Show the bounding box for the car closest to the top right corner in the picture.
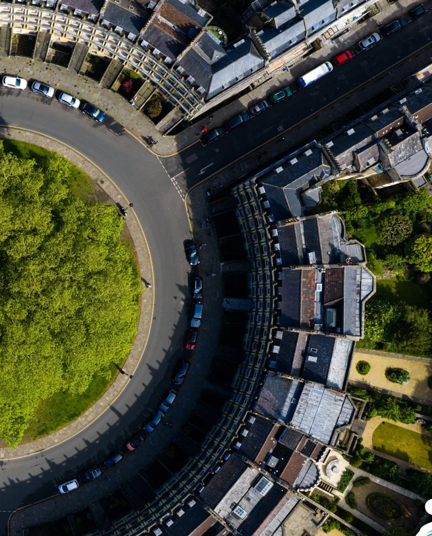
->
[406,2,429,21]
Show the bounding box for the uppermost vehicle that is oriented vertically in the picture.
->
[183,239,198,265]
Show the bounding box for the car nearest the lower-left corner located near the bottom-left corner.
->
[57,478,80,494]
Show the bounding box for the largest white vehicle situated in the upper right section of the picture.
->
[296,61,332,89]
